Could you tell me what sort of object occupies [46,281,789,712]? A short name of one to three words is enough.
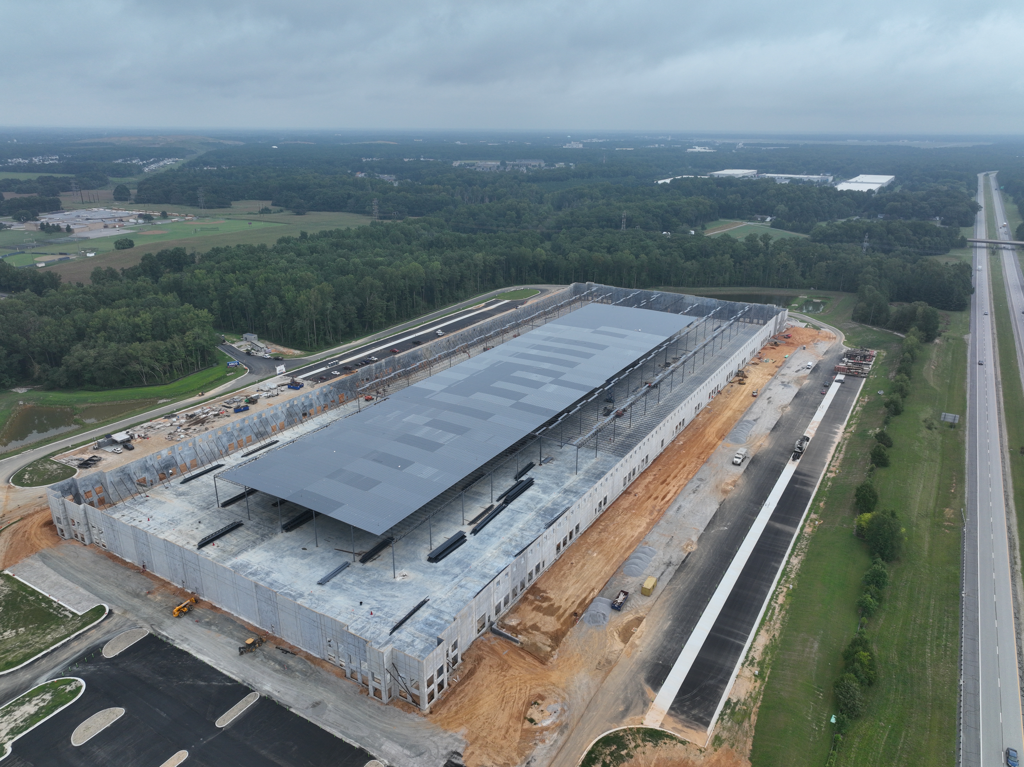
warehouse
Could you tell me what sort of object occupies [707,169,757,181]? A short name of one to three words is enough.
building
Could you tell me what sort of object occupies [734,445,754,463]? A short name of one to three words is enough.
vehicle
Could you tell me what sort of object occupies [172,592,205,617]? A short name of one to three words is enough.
work vehicle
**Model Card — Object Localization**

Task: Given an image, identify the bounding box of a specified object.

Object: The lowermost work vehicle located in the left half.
[234,636,270,658]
